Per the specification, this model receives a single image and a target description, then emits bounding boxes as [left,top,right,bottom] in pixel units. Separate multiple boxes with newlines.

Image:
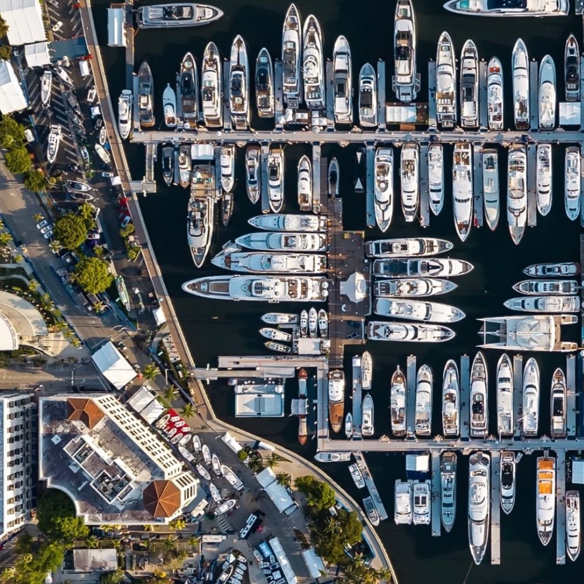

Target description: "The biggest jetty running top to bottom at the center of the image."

[328,231,372,345]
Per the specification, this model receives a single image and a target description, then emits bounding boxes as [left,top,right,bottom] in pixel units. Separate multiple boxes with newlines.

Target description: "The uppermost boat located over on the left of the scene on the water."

[136,2,224,29]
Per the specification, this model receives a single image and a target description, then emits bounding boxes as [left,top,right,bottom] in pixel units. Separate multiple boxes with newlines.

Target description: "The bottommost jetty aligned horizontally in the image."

[328,438,584,451]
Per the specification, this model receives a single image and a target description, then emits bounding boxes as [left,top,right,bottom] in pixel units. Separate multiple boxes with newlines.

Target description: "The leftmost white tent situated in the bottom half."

[91,340,142,387]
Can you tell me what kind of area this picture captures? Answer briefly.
port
